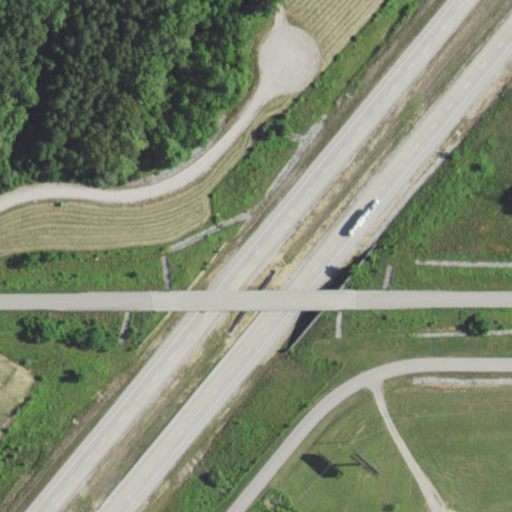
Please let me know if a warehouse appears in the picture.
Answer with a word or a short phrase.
No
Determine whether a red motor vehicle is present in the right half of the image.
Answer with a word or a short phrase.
No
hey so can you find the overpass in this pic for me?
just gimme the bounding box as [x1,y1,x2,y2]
[137,239,384,354]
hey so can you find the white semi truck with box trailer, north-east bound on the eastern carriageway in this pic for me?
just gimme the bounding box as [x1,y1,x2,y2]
[350,200,380,236]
